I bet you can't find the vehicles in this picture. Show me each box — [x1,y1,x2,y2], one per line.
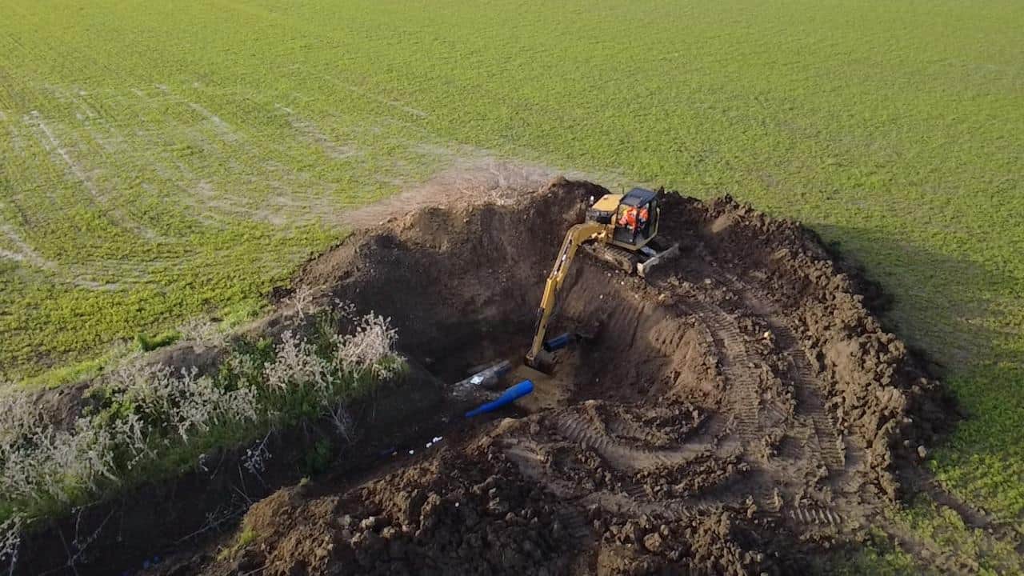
[514,182,683,379]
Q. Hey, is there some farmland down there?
Yes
